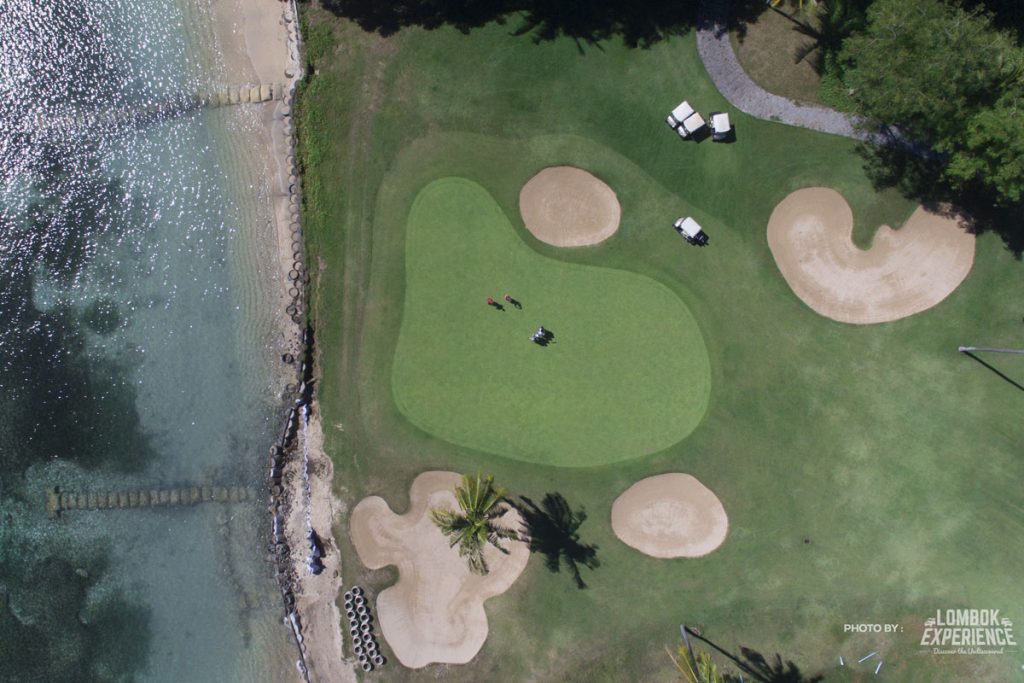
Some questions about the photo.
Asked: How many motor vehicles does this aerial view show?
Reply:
4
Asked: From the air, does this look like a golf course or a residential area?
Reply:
golf course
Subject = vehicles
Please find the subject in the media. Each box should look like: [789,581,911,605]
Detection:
[664,101,694,131]
[672,216,704,243]
[675,112,705,142]
[707,113,730,143]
